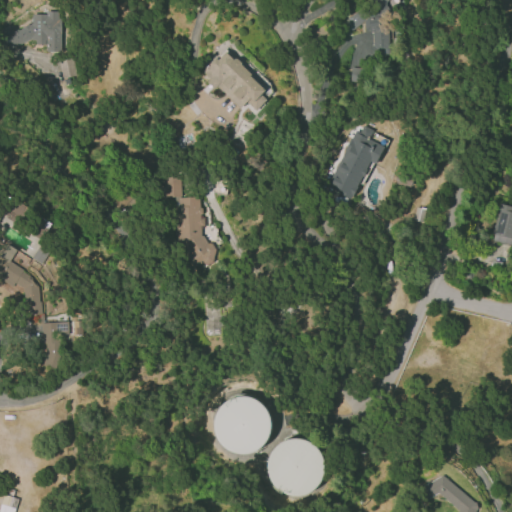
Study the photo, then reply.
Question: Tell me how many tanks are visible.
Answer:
2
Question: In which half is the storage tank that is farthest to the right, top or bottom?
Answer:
bottom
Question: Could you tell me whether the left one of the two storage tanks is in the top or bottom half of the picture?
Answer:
bottom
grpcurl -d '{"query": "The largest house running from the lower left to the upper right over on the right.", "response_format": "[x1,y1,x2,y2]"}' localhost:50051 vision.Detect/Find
[331,124,392,196]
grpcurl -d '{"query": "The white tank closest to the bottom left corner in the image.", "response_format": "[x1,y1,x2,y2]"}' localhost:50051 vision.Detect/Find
[214,396,272,454]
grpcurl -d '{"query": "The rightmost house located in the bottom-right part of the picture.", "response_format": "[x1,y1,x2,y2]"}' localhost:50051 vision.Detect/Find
[427,474,484,512]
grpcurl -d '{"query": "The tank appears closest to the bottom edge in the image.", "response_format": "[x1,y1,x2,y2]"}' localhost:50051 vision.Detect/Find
[268,438,324,496]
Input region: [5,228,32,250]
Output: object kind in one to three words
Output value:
swimming pool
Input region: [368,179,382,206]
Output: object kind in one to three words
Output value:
swimming pool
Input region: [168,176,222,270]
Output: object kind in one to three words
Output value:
house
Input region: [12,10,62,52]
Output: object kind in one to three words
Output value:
house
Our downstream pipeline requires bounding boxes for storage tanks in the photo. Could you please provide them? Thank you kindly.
[268,438,324,496]
[214,396,272,454]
